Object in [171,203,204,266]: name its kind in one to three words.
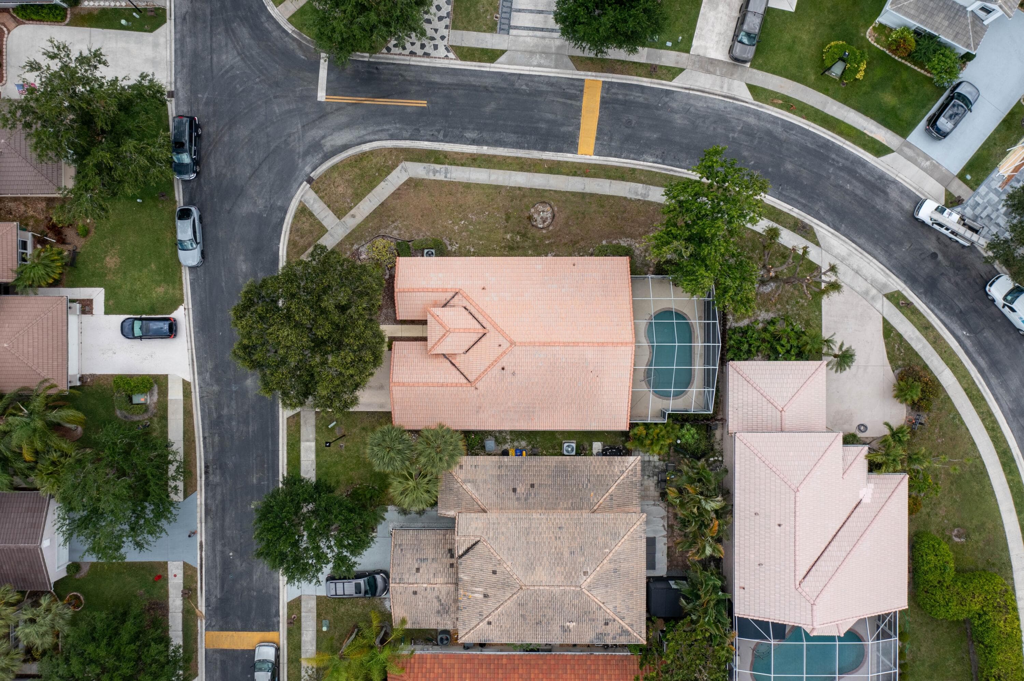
car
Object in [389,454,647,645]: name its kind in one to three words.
house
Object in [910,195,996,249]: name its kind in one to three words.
vehicle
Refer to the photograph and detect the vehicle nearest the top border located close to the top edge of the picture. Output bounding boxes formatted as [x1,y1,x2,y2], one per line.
[730,0,769,58]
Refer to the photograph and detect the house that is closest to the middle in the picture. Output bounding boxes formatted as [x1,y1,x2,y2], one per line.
[390,257,636,432]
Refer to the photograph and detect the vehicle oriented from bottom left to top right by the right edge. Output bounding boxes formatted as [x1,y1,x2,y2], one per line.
[930,76,983,141]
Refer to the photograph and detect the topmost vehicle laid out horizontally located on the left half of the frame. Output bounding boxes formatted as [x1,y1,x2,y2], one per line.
[118,313,179,342]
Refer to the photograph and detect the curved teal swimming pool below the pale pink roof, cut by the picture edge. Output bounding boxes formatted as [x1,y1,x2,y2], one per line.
[749,625,869,681]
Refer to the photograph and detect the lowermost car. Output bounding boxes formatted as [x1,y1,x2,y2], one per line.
[248,643,281,681]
